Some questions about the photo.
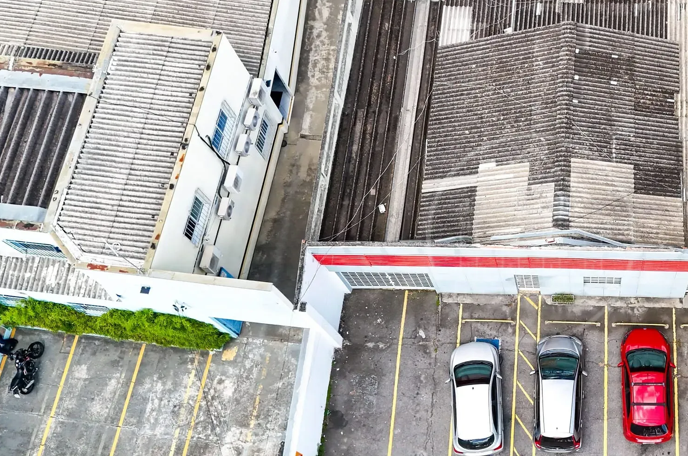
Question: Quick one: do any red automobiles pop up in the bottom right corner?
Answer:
Yes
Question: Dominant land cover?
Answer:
buildings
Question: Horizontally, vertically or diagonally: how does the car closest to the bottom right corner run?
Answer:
vertically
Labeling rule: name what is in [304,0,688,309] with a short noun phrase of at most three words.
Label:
building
